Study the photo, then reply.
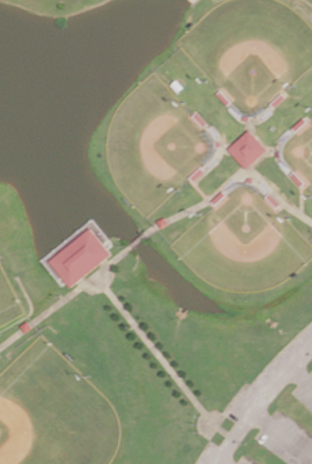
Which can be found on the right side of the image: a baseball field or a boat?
baseball field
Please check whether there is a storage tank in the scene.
No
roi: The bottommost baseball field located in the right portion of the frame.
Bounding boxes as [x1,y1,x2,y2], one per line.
[173,188,312,292]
